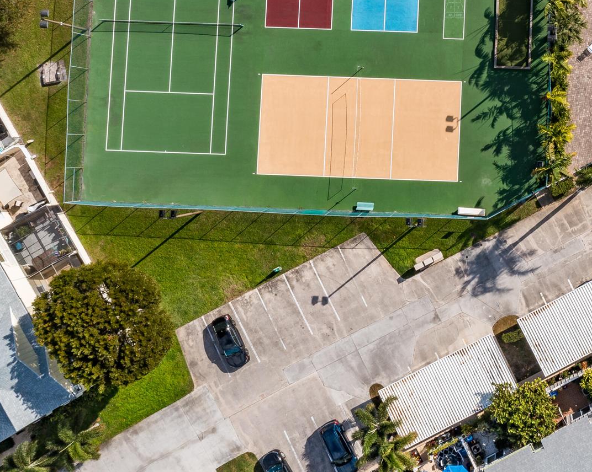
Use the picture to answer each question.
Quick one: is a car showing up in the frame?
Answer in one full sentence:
Yes, a car is visible in the scene.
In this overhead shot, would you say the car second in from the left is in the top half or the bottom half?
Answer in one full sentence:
The bottom half of the photo is where the car second in from the left is.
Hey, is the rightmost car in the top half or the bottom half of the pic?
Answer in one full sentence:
The bottom half of the photo is where the rightmost car is.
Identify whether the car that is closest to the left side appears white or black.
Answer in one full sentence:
From above, the car that is closest to the left side appears black.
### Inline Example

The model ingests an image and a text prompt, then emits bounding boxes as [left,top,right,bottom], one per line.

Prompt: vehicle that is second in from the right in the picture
[256,447,287,472]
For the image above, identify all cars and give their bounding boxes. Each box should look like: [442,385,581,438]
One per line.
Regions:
[316,420,355,472]
[209,320,246,369]
[256,447,287,472]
